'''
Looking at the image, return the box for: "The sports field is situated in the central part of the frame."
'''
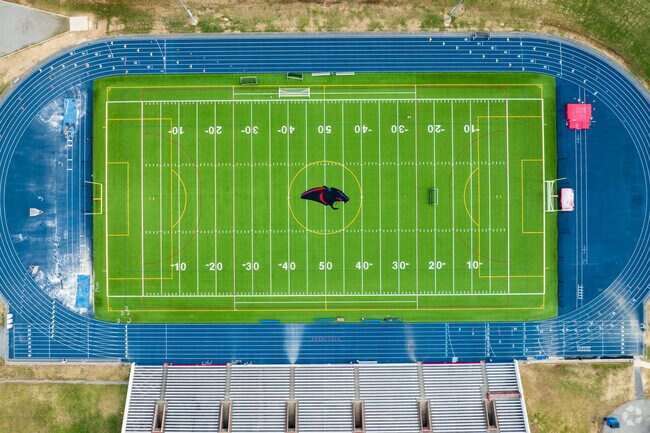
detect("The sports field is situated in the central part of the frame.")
[91,70,559,324]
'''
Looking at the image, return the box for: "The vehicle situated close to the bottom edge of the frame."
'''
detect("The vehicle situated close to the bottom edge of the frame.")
[605,416,622,430]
